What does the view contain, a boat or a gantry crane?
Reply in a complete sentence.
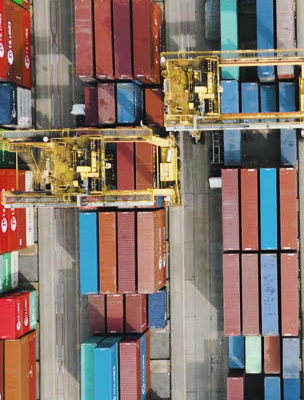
This aerial view contains a gantry crane.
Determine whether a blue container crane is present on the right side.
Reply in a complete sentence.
No, the scene shows no blue container crane on the right side.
